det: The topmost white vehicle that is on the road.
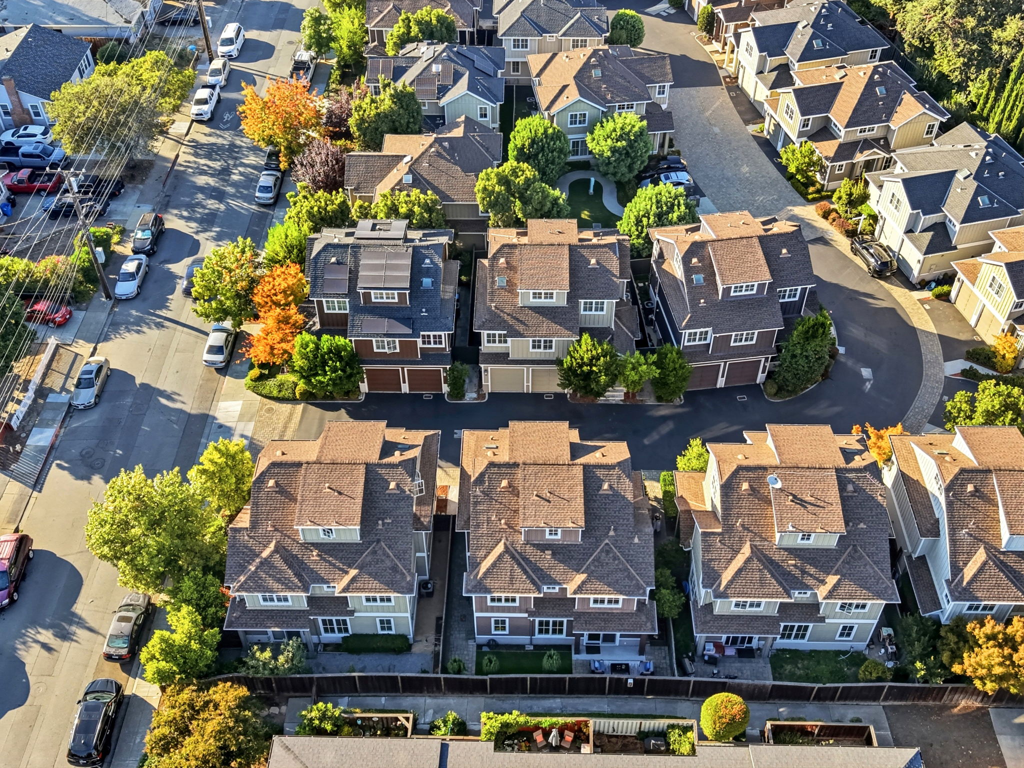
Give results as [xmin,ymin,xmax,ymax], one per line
[219,25,246,58]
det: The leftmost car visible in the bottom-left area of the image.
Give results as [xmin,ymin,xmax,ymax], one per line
[0,535,38,607]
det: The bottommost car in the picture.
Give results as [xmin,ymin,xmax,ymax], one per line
[63,684,127,768]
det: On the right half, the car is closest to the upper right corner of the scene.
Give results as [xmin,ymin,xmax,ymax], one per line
[847,240,903,278]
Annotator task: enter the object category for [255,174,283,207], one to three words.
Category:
car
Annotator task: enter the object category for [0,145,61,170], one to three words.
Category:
truck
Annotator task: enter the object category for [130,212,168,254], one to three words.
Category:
car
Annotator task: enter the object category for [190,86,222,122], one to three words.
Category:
truck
